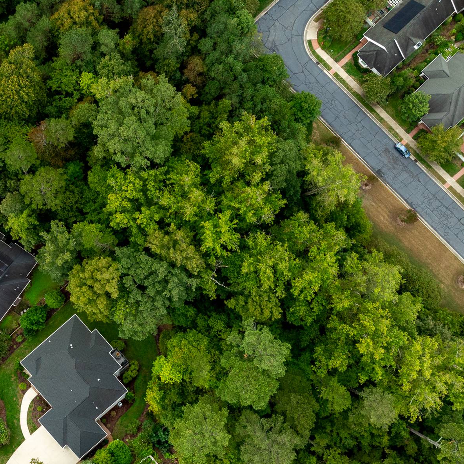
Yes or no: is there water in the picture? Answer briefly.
No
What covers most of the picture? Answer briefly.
trees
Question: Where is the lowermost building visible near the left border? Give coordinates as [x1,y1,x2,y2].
[20,313,129,458]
